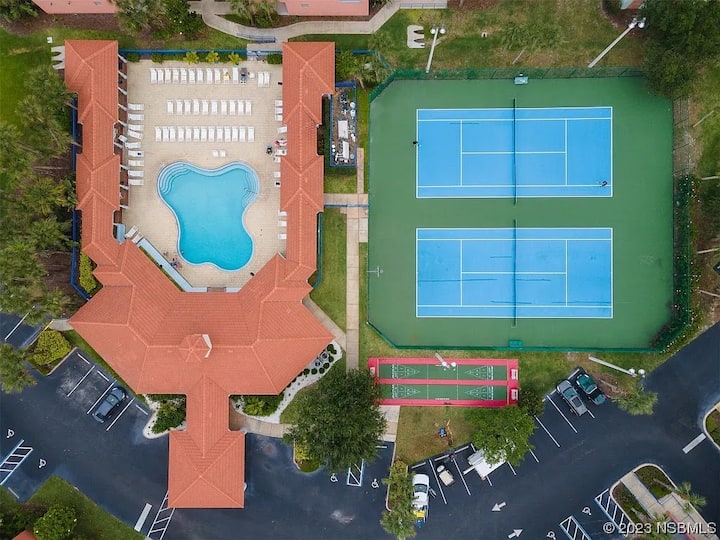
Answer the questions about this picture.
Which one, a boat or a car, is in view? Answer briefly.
car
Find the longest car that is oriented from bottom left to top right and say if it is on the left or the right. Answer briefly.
left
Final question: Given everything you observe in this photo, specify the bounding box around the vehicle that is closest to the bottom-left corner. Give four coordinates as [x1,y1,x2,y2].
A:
[90,388,124,424]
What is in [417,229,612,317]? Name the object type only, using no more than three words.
tennis court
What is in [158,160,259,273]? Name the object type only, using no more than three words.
swimming pool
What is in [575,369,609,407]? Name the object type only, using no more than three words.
car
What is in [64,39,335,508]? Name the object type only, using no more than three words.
building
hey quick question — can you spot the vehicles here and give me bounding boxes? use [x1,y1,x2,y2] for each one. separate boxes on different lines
[90,388,124,424]
[575,369,609,407]
[556,380,592,420]
[436,464,455,490]
[412,475,436,526]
